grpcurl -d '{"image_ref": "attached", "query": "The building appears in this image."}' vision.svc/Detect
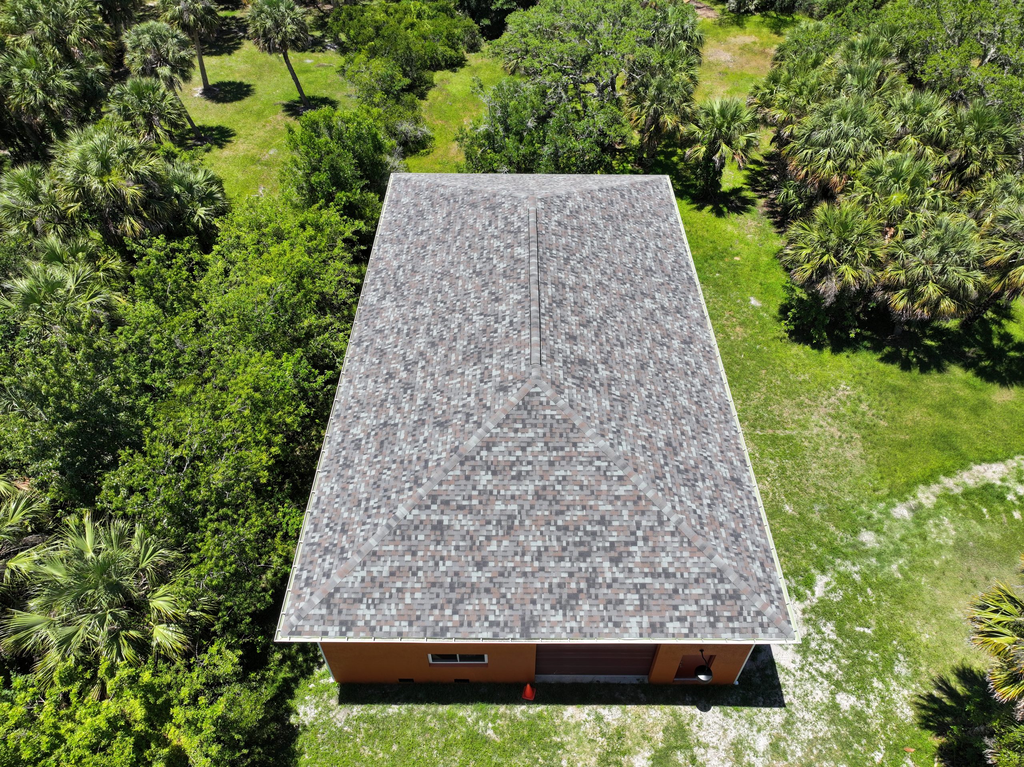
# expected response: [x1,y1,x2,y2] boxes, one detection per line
[275,173,802,685]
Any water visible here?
No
